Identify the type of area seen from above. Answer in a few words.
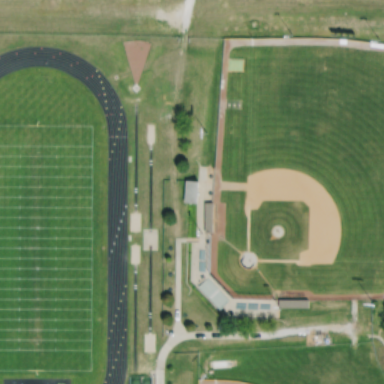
sports ground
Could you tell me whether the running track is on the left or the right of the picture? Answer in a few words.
left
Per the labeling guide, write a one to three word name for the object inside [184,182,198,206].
building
